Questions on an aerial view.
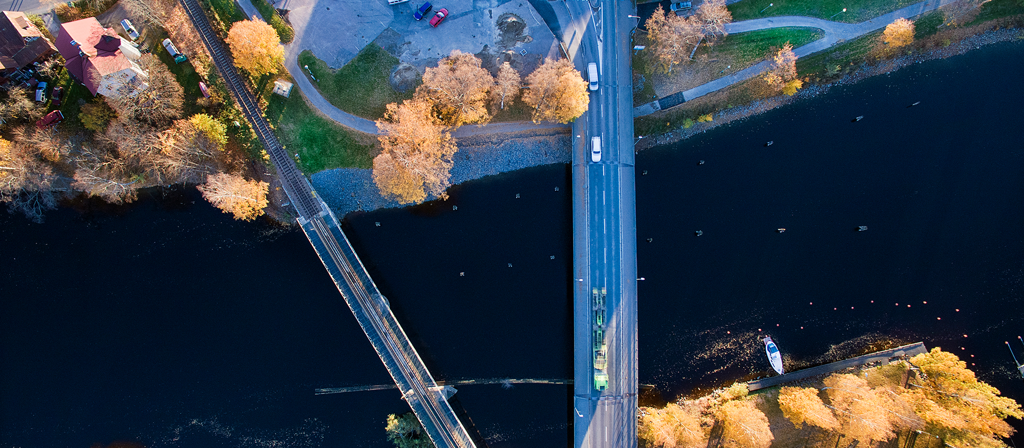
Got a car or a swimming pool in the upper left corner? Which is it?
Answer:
car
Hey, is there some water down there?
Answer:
Yes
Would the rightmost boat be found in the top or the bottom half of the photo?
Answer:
bottom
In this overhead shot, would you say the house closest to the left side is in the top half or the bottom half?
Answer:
top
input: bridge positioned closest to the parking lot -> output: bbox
[571,86,639,447]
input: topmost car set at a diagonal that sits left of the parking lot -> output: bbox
[120,18,141,41]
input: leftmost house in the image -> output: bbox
[0,3,69,89]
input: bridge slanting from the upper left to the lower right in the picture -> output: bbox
[282,178,475,448]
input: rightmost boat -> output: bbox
[762,335,786,377]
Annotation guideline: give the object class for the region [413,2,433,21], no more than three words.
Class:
car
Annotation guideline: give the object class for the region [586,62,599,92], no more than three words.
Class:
vehicle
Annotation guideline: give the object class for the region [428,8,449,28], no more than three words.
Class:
car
